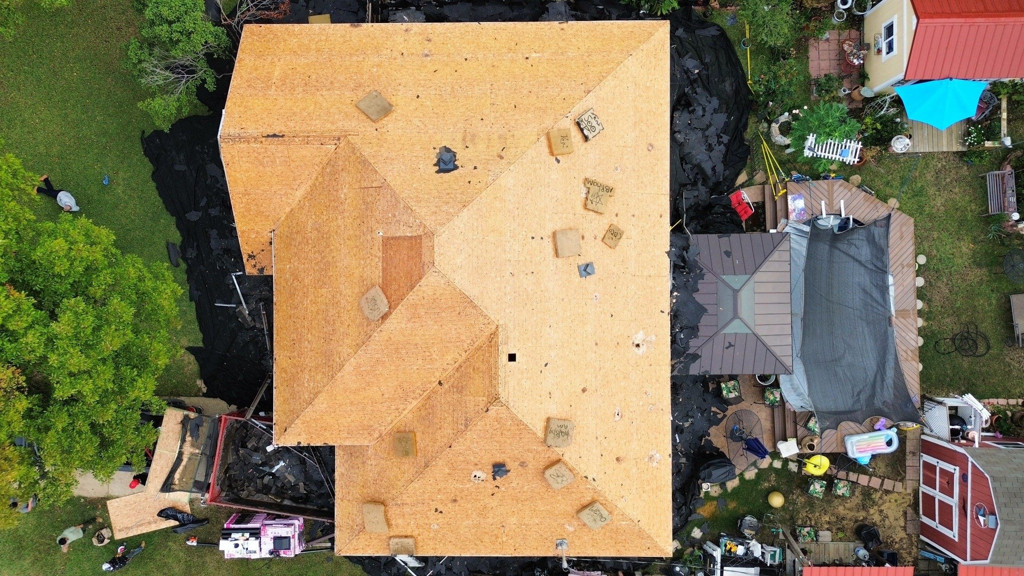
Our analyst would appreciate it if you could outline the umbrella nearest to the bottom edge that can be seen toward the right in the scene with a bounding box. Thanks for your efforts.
[745,438,773,463]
